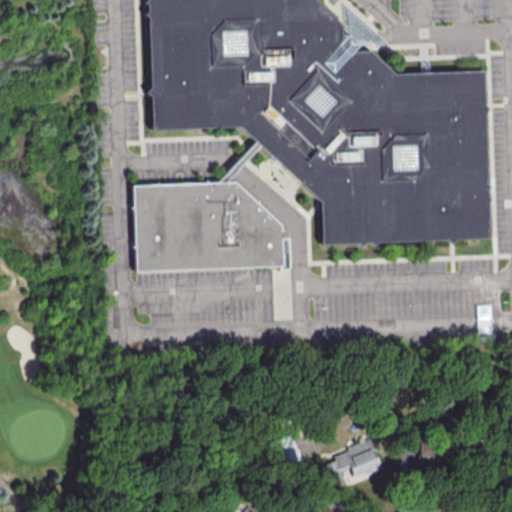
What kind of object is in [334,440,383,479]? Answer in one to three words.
house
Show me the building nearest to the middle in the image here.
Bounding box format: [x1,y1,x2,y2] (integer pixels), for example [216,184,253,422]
[134,182,292,272]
